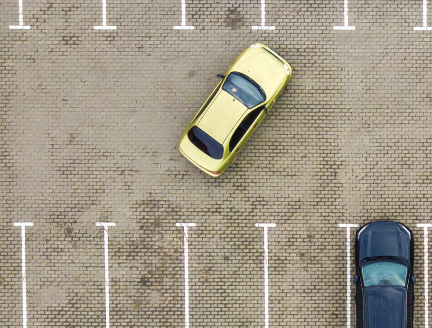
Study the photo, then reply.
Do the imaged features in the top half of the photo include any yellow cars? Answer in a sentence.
Yes, a yellow car appears in the top half of the photo.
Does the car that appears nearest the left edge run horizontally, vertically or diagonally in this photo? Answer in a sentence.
In this picture, the car that appears nearest the left edge is oriented diagonally.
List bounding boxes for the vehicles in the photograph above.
[177,42,292,176]
[351,220,419,328]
